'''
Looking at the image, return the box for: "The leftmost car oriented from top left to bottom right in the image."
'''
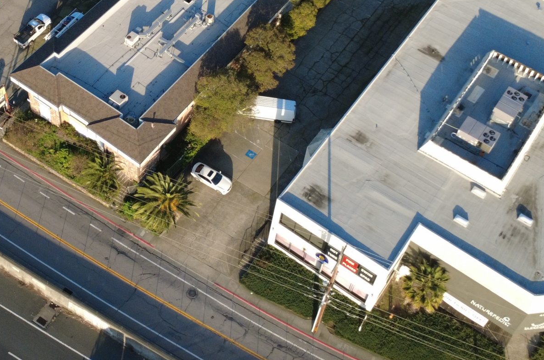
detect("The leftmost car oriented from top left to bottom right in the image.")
[191,162,232,196]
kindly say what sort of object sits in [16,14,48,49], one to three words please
truck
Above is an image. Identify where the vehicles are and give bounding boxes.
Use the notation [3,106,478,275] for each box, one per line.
[45,7,84,40]
[254,94,300,124]
[191,162,232,196]
[16,14,48,49]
